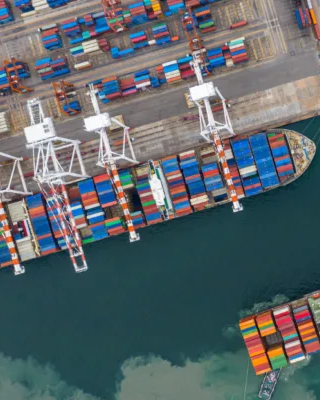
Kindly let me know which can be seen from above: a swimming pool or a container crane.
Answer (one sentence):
I can see a container crane in this picture.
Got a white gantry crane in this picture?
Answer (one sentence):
Yes, I can see a white gantry crane in this picture.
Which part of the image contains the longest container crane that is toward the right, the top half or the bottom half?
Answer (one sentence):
The longest container crane that is toward the right is in the top half of the image.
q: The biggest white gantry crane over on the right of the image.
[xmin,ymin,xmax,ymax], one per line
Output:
[188,48,244,214]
